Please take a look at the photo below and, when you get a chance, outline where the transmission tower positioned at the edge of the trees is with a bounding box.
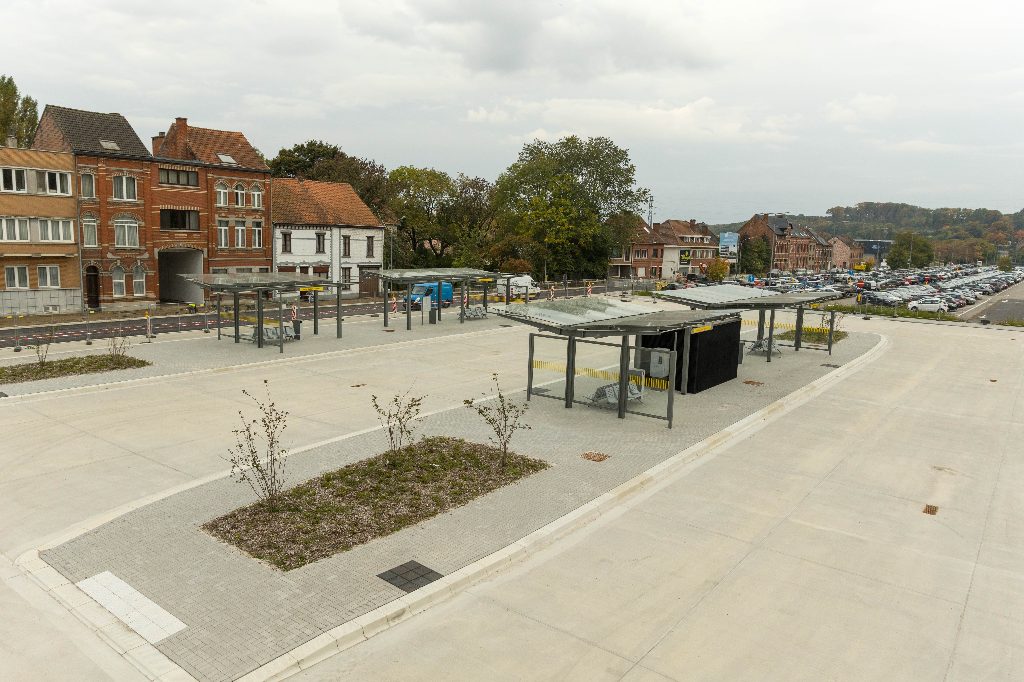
[646,196,658,220]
